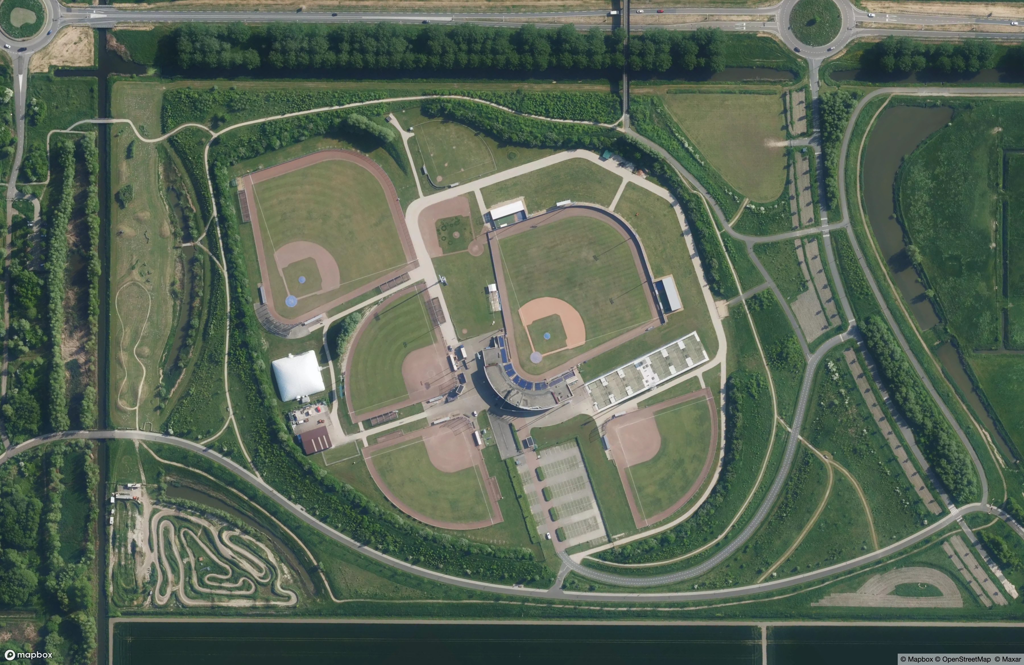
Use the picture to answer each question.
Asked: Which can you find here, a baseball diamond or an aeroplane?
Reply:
baseball diamond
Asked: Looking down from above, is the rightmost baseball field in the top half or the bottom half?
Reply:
bottom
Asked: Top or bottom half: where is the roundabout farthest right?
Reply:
top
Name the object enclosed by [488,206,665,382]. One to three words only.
baseball field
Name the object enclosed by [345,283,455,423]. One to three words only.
baseball field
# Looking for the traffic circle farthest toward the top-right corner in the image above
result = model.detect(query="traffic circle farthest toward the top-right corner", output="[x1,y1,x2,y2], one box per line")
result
[777,0,854,58]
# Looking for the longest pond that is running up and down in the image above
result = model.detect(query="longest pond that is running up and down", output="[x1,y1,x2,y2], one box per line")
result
[864,105,953,330]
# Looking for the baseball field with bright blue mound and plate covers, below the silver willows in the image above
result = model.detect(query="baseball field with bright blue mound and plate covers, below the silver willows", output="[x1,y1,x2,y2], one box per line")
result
[244,149,419,324]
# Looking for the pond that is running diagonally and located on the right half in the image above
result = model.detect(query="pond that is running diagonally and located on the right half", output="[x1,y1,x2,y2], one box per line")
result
[939,343,1013,460]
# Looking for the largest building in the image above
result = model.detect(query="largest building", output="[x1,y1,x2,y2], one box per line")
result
[585,331,709,411]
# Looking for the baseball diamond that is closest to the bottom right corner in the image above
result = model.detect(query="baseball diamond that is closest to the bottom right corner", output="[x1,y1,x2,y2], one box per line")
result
[606,387,718,529]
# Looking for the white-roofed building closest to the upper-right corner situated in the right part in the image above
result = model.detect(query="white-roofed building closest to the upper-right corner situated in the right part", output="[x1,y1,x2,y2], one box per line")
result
[654,277,681,314]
